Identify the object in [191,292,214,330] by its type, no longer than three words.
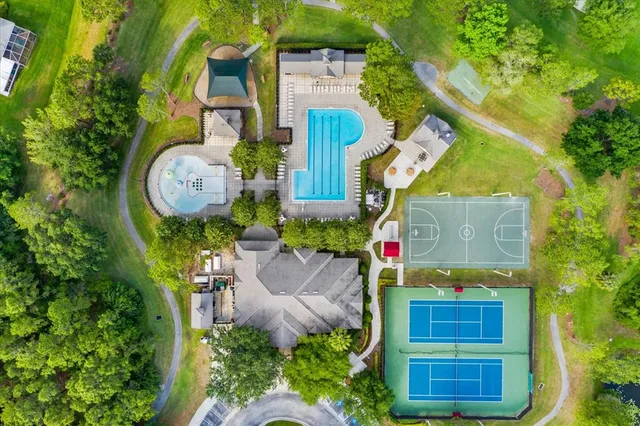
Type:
shed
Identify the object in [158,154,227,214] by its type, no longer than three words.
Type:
swimming pool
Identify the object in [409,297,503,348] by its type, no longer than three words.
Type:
tennis court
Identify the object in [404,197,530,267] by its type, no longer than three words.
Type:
basketball court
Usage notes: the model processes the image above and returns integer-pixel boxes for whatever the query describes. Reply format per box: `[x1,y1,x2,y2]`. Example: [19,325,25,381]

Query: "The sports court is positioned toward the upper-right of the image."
[447,59,491,105]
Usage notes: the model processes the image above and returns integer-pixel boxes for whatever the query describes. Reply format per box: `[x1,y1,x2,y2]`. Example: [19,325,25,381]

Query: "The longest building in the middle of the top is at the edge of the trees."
[279,46,366,82]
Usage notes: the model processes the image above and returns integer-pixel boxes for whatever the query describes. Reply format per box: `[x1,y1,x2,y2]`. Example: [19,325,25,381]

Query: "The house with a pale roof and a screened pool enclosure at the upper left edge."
[0,19,42,97]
